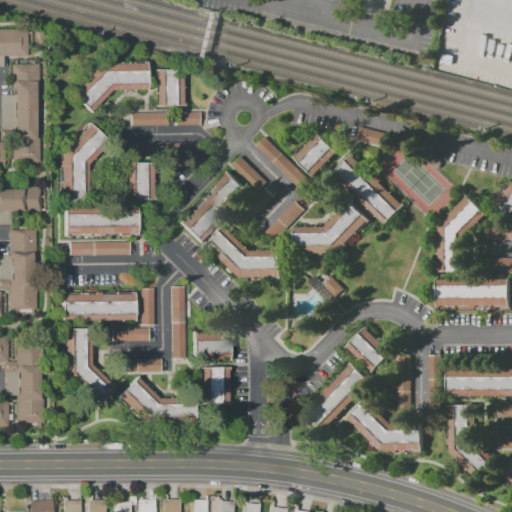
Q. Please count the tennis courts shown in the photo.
one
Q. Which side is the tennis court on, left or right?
right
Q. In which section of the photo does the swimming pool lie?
center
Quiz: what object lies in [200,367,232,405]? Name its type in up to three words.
building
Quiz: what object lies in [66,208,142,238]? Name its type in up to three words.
building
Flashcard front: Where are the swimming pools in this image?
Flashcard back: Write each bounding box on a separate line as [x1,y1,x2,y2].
[296,292,323,314]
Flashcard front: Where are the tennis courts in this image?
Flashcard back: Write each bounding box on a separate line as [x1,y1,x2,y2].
[381,154,456,214]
